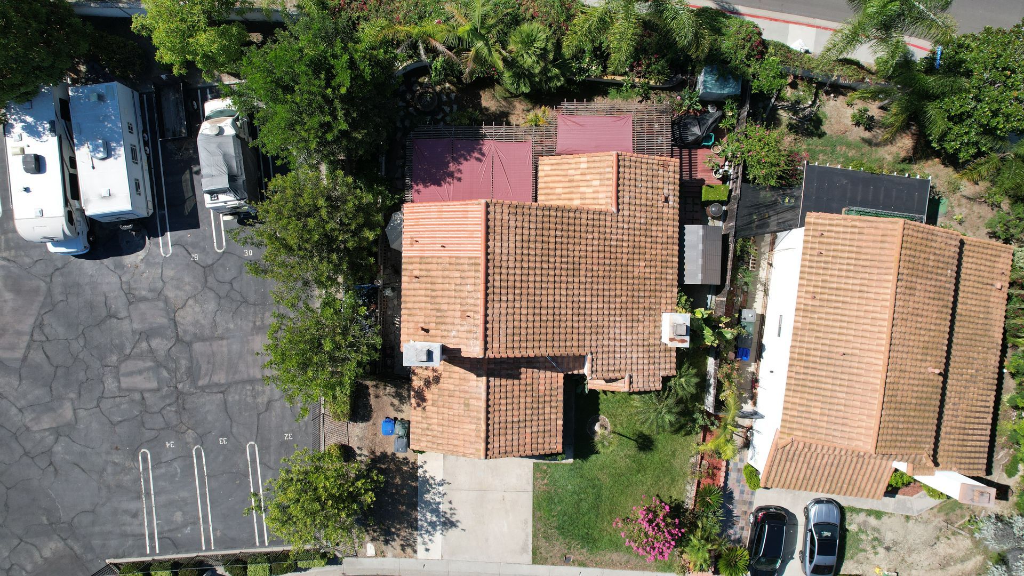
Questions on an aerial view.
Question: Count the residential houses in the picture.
2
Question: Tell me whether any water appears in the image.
No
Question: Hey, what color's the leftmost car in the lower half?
black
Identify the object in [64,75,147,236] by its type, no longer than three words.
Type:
trailer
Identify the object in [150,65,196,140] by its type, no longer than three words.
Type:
trailer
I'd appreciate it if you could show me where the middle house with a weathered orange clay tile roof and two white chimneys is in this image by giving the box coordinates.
[399,148,691,461]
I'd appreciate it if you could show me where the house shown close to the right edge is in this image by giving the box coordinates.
[747,211,1016,506]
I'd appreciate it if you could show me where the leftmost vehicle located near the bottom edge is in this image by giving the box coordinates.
[746,510,791,576]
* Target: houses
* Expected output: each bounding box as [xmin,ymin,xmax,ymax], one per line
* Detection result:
[747,211,1016,506]
[399,148,691,461]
